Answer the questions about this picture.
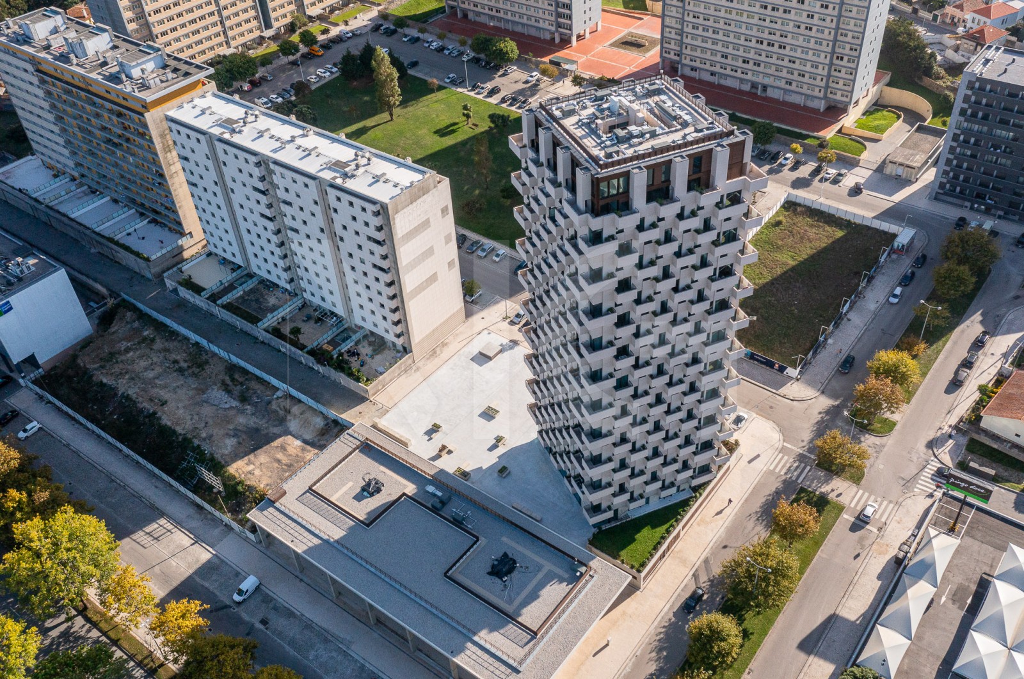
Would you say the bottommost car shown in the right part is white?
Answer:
No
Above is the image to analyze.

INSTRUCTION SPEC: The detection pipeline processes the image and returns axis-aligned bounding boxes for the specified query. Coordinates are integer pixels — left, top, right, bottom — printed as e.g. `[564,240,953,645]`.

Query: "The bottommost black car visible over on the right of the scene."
[678,588,709,614]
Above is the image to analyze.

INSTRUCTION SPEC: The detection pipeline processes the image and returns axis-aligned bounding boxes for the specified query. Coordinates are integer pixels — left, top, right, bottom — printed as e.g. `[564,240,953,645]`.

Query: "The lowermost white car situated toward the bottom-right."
[857,503,880,524]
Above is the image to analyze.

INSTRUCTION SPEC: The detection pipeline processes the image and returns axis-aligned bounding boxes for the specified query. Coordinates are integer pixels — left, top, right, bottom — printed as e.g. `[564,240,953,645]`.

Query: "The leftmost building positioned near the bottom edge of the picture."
[245,423,629,679]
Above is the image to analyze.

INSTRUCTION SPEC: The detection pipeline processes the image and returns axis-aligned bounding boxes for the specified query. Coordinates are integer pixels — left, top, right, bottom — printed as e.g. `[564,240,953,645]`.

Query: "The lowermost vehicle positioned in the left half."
[230,571,262,604]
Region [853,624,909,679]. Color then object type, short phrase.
white tent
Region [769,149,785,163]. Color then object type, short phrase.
black car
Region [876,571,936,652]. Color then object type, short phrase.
white tent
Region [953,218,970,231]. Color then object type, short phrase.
black vehicle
